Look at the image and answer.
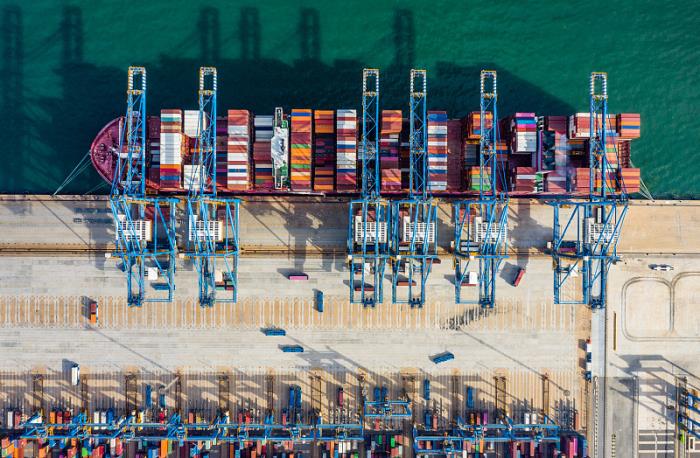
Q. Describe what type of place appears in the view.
port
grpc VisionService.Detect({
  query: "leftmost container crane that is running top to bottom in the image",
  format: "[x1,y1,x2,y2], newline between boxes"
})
[107,65,187,308]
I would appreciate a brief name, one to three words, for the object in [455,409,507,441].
crane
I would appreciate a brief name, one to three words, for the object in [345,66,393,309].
container crane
